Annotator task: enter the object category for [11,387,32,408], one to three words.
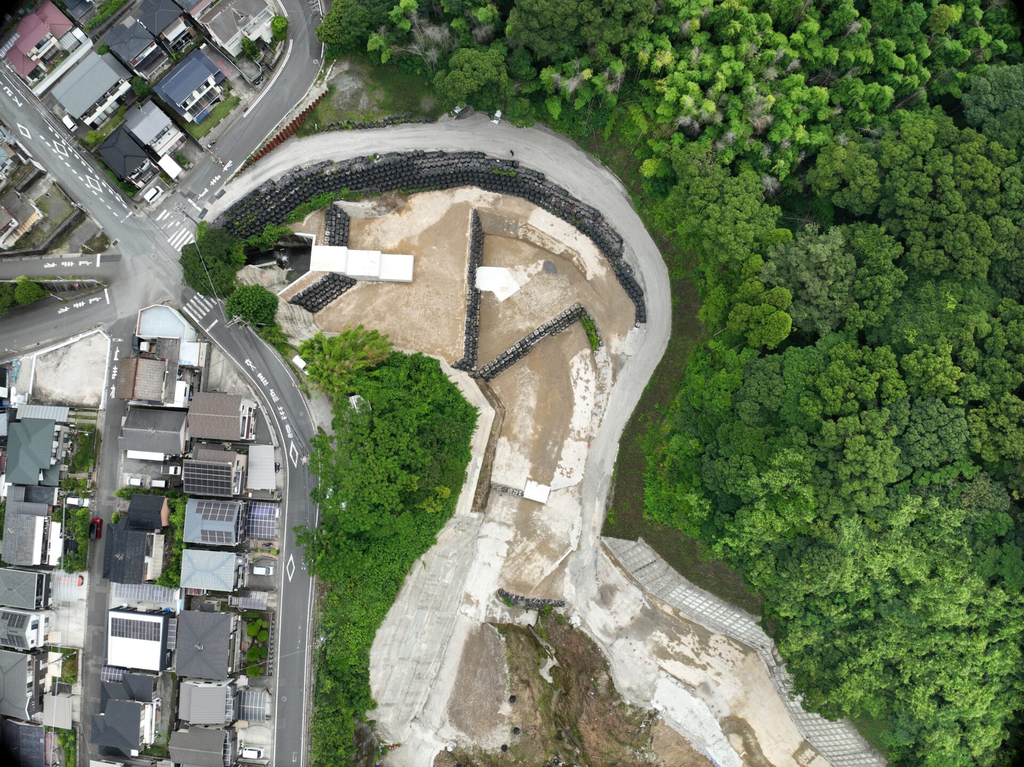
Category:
shed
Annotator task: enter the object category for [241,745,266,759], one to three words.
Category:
car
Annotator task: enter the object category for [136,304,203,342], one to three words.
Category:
building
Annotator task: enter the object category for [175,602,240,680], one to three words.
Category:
house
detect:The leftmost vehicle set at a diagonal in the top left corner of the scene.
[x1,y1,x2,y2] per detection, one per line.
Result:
[57,111,81,134]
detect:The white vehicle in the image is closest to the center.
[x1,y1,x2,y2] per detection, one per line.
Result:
[288,354,309,374]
